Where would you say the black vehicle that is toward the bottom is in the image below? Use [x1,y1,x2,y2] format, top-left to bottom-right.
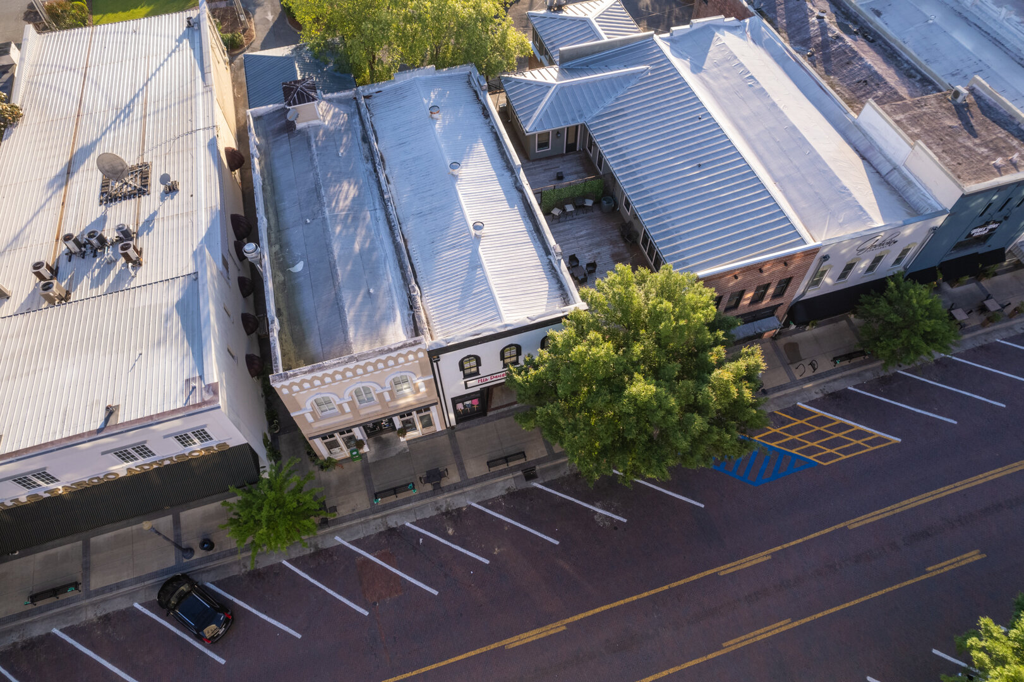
[155,570,237,649]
